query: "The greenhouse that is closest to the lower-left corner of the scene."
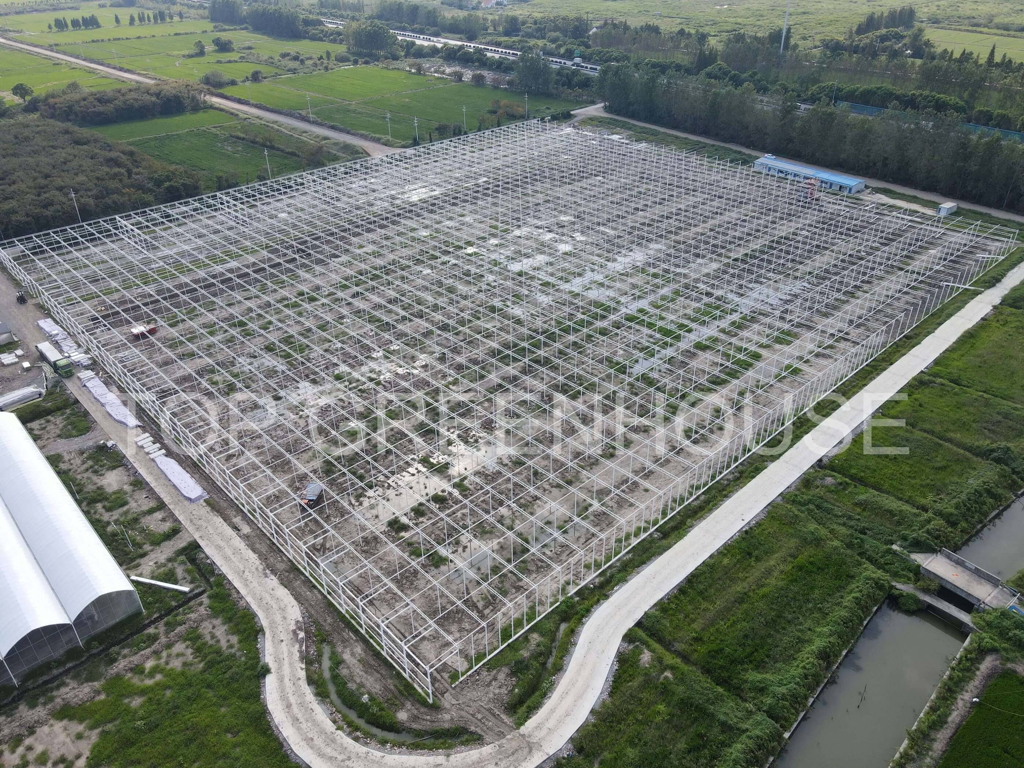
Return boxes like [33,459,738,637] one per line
[0,408,145,687]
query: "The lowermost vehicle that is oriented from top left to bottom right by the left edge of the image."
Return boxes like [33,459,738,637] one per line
[40,341,73,380]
